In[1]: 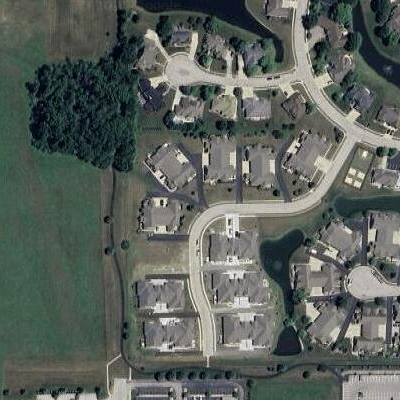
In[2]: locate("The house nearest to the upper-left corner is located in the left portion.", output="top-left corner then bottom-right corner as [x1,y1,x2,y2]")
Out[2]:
[140,44,158,70]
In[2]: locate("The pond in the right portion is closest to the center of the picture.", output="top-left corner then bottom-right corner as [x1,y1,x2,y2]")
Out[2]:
[260,227,306,318]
